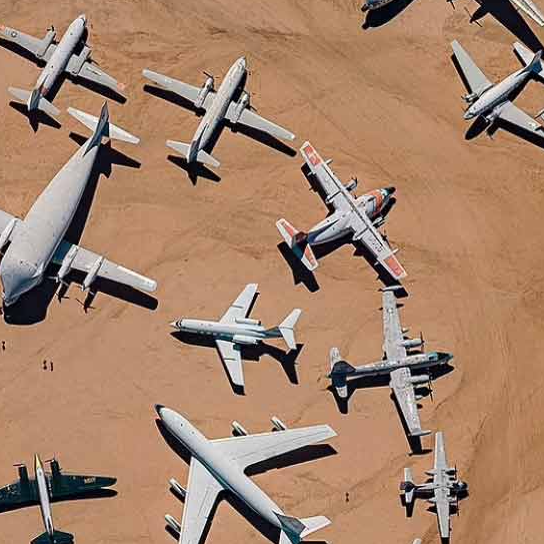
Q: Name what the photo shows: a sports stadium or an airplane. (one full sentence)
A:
The one in the frame is an airplane.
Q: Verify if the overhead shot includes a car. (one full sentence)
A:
No, no car can be seen from above.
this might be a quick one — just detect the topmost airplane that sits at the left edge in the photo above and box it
[0,17,125,115]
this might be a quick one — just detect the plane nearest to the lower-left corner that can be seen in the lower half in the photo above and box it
[0,453,118,544]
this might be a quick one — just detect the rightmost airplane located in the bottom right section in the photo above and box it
[399,431,465,536]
